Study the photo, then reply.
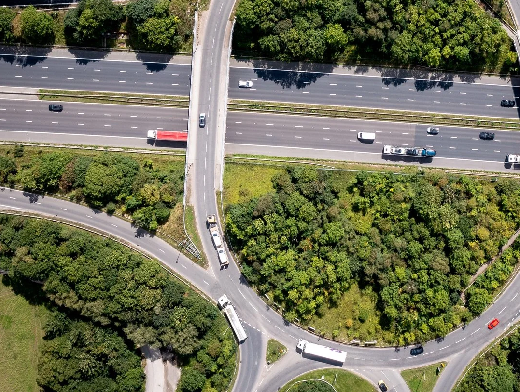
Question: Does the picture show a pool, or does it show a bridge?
bridge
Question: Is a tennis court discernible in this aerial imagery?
No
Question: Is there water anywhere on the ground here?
No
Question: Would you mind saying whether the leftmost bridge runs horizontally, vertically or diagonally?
vertically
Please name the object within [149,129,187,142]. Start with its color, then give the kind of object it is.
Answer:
red vehicle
